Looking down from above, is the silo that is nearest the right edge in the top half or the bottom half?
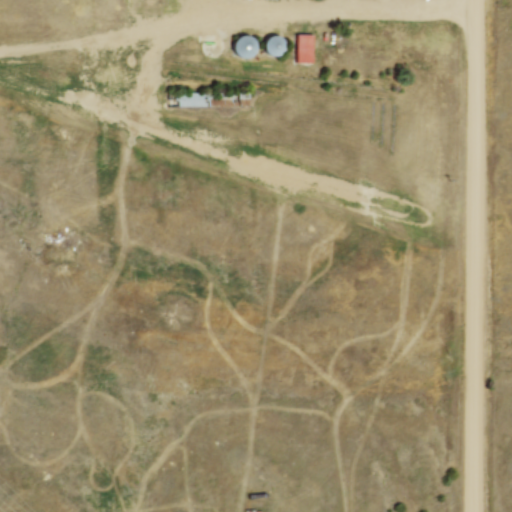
top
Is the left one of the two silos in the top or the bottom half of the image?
top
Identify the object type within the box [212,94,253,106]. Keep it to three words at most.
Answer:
shed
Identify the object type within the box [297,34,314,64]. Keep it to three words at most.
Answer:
barn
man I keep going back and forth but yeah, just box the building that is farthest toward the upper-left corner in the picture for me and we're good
[178,94,210,107]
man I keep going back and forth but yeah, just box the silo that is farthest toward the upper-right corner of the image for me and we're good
[264,35,288,58]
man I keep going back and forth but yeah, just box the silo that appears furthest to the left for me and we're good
[234,36,259,59]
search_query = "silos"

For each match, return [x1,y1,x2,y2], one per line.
[234,36,259,59]
[264,35,288,58]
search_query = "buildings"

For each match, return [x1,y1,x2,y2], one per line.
[297,34,314,64]
[178,94,210,107]
[212,94,253,106]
